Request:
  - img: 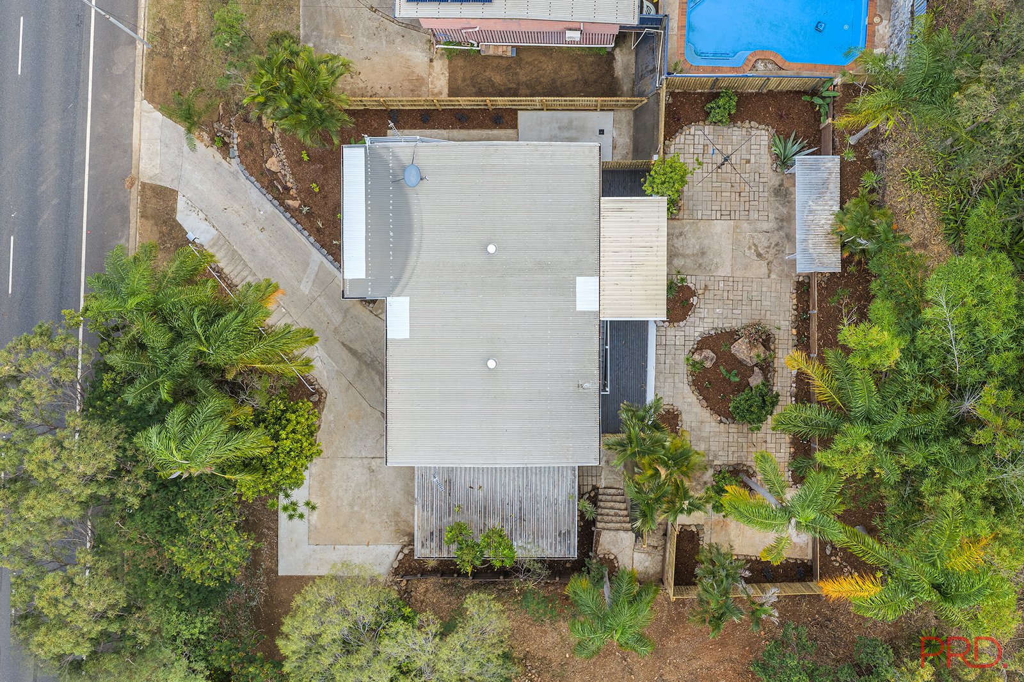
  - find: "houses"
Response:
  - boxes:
[395,0,642,48]
[340,135,603,468]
